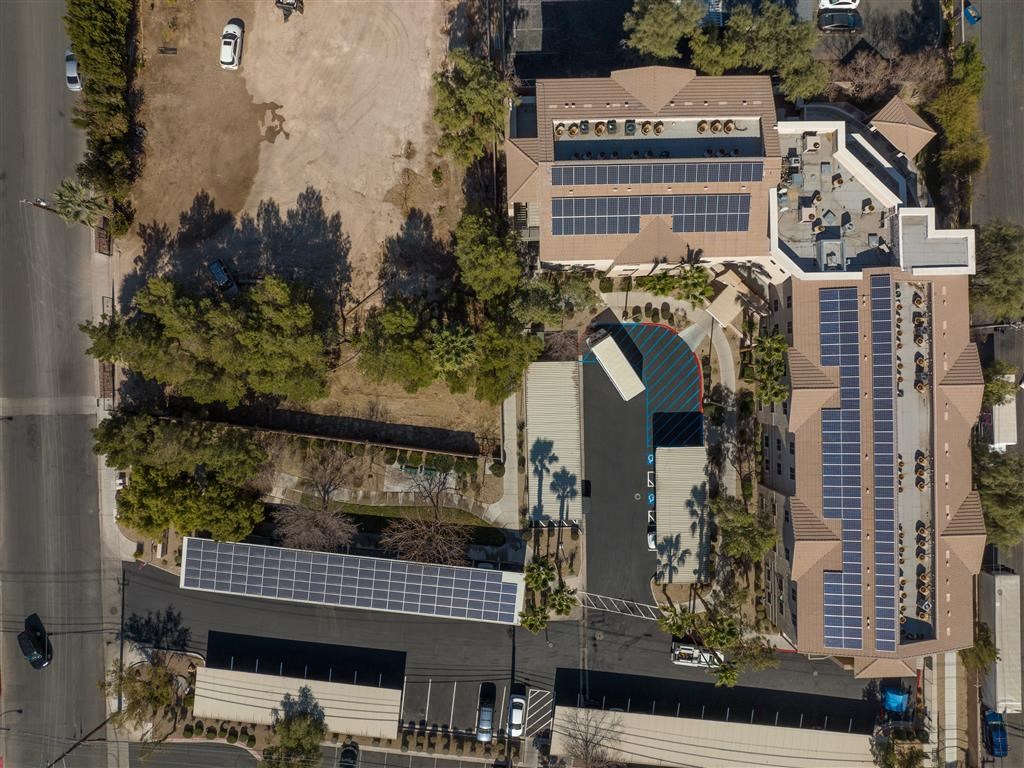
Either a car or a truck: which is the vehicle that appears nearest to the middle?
truck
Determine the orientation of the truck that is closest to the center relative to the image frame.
diagonally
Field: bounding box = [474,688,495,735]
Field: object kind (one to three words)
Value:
car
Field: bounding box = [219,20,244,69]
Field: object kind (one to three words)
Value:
car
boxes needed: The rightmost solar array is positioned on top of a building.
[871,274,896,652]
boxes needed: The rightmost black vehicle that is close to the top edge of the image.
[815,8,863,32]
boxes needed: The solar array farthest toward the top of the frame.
[552,163,764,186]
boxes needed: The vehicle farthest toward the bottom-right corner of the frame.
[981,704,1007,755]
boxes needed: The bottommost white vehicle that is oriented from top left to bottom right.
[583,328,644,400]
